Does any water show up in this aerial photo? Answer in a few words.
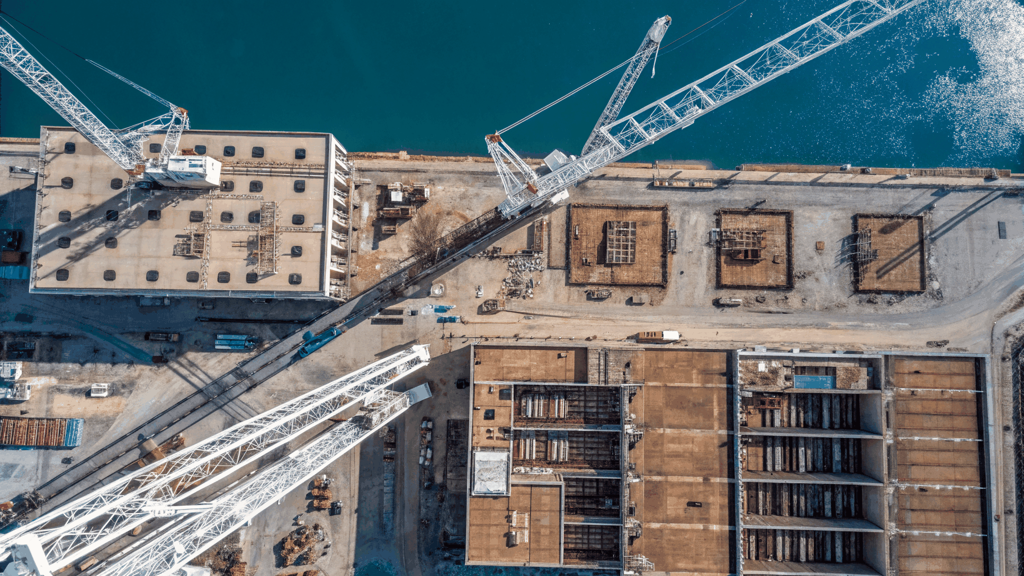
Yes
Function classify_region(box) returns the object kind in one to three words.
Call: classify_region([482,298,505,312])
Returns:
vehicle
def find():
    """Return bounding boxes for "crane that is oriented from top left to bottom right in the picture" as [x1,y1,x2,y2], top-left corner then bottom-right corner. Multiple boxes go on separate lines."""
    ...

[0,13,220,206]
